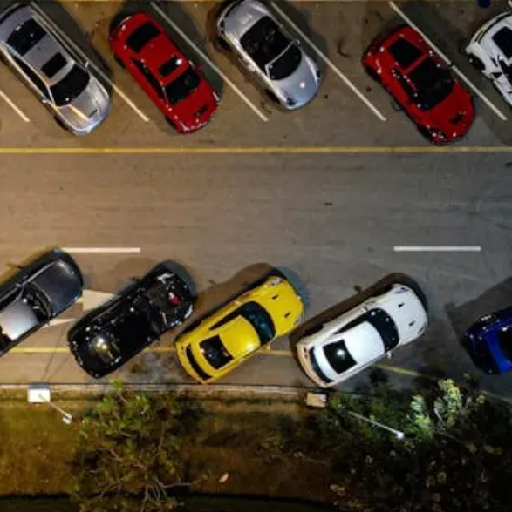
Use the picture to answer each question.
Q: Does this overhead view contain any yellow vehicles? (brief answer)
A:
Yes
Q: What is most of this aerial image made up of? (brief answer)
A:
paved ground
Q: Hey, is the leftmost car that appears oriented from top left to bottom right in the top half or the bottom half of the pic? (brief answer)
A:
top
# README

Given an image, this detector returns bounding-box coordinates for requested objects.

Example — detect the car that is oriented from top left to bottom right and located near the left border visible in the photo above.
[0,3,107,132]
